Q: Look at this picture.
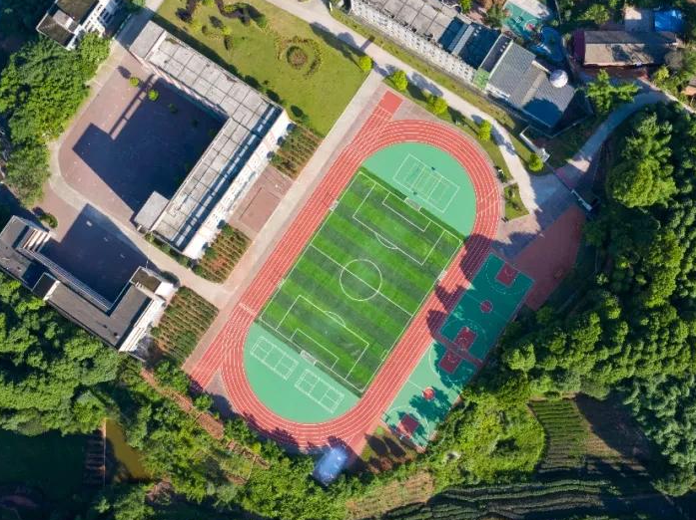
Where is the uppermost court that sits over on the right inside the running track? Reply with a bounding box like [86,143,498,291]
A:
[391,152,461,214]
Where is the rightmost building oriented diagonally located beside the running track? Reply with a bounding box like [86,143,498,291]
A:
[351,0,575,133]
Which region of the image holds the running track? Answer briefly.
center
